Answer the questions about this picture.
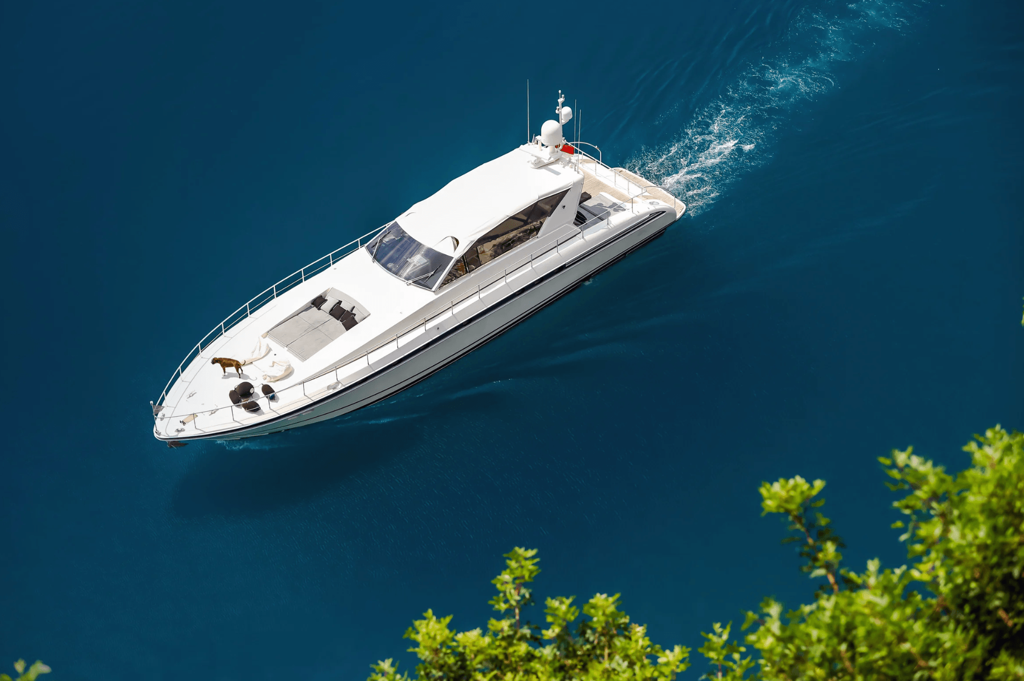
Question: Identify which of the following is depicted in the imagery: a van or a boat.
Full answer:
Looking from above, you can make out a boat.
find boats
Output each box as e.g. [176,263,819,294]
[150,80,684,447]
